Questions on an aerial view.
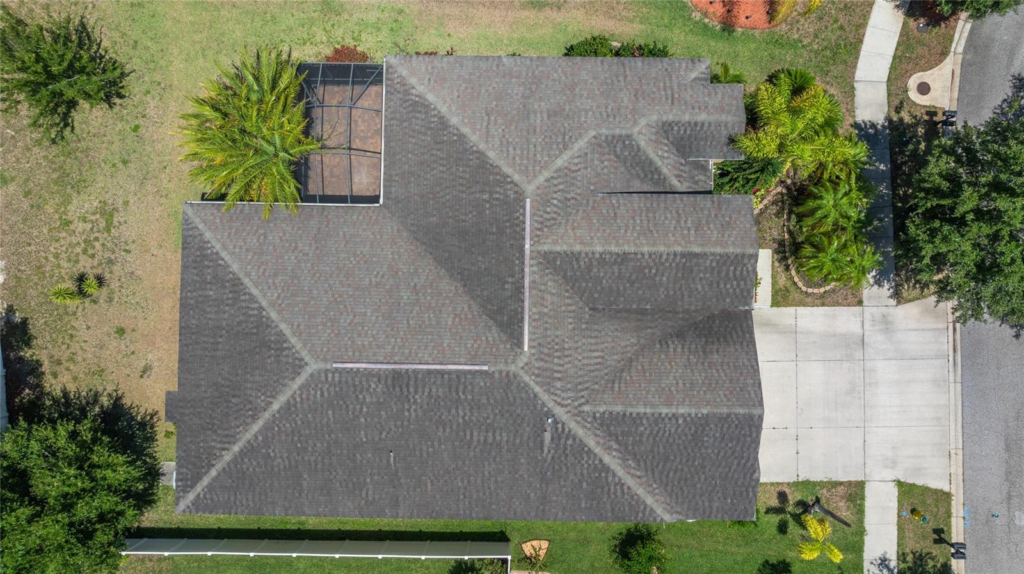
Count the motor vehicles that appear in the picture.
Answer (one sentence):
No motor vehicles are visible.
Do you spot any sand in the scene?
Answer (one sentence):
No, the picture contains no sand.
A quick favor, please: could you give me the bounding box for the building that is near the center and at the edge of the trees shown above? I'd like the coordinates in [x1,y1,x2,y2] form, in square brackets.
[164,53,765,523]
